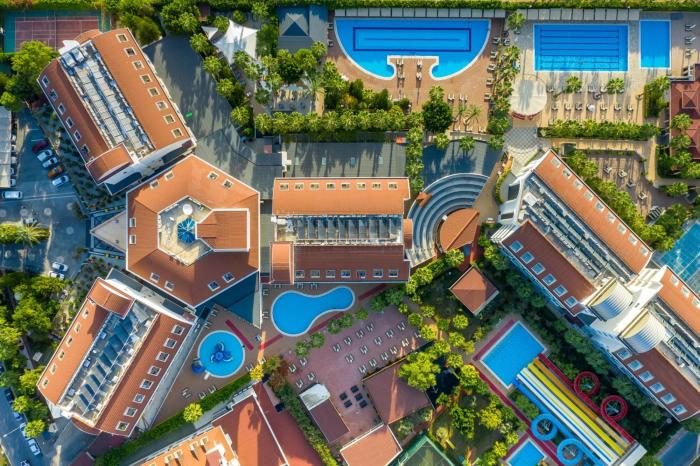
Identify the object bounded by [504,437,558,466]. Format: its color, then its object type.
blue swimming pool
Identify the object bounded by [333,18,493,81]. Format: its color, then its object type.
blue swimming pool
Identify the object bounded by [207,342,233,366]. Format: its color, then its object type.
blue fountain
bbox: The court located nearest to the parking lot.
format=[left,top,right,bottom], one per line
[3,9,109,60]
